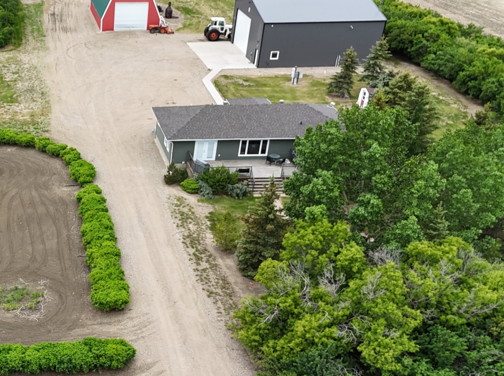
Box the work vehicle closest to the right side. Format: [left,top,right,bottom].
[203,15,234,41]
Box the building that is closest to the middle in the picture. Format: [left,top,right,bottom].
[149,96,339,167]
